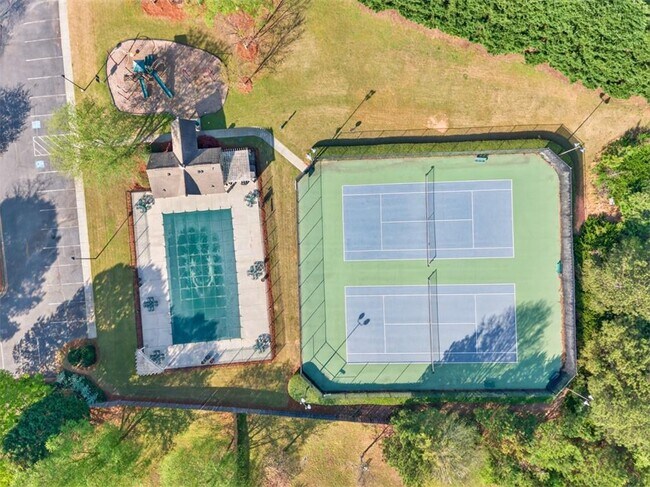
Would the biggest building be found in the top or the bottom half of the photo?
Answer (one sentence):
The biggest building sits in the top half of the picture.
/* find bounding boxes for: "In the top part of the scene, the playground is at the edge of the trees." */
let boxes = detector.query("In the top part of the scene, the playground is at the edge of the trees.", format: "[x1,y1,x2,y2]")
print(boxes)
[108,39,227,116]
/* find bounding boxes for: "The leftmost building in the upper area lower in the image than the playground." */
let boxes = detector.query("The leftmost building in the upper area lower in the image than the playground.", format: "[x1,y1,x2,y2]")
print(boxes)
[146,111,229,199]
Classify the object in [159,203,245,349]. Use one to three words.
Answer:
swimming pool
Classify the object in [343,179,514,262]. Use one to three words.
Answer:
tennis court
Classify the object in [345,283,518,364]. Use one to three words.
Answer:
tennis court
